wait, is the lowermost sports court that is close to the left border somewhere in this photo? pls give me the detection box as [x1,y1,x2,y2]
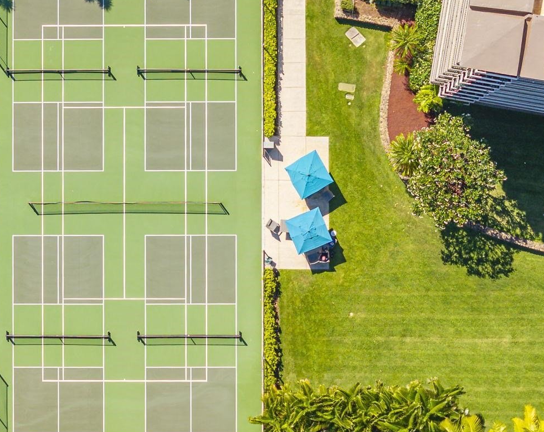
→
[12,235,104,432]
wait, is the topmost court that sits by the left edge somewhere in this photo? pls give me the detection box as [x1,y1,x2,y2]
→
[12,0,104,172]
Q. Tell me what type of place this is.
sports ground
